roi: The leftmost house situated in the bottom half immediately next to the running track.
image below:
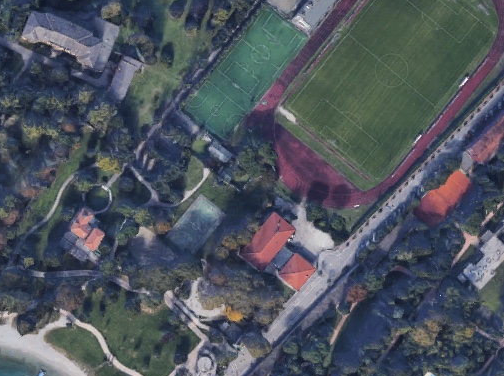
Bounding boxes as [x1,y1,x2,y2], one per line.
[238,211,296,271]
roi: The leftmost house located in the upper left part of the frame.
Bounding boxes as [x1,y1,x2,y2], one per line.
[22,10,120,72]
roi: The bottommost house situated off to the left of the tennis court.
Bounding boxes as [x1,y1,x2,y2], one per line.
[60,208,105,255]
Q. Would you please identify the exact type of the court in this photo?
tennis court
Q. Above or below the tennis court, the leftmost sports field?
above it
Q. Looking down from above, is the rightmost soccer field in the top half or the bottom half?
top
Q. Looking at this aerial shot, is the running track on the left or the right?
right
